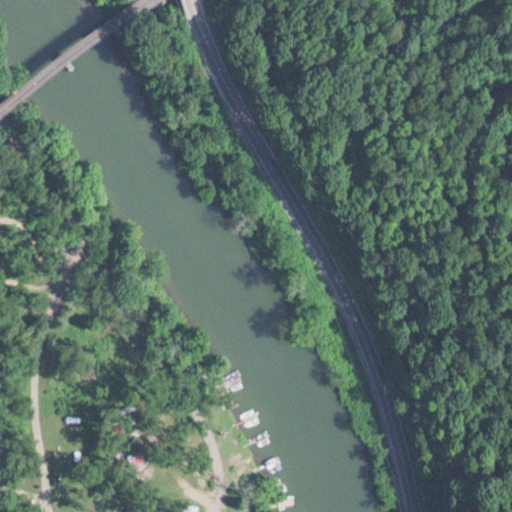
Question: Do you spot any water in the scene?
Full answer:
Yes, there's water in this view.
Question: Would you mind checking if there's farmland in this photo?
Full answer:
No, the picture contains no farmland.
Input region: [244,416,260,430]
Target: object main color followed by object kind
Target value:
white boat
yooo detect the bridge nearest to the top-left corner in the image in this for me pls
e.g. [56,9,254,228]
[0,0,143,120]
